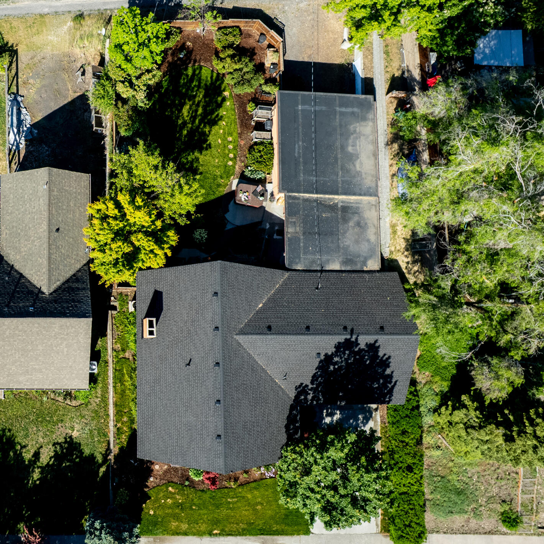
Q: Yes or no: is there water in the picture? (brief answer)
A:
No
